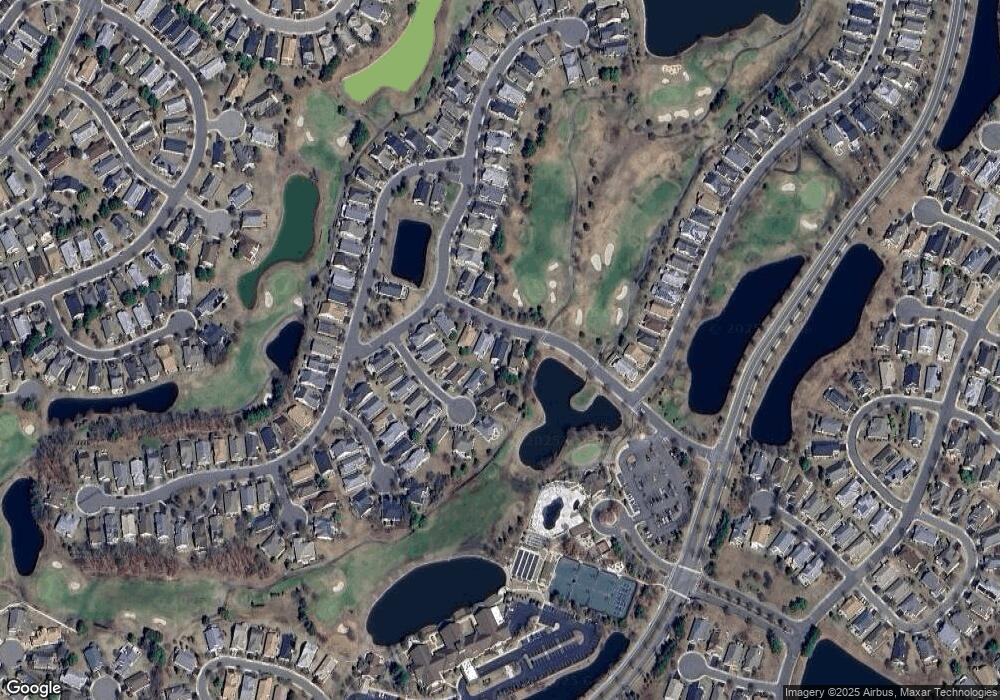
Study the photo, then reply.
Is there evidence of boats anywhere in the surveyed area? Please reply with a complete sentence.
No, I find no boat anywhere in the image.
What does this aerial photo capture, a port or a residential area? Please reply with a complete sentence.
This image shows a residential area.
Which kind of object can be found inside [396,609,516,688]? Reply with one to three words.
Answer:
building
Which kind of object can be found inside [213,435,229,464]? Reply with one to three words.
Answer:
house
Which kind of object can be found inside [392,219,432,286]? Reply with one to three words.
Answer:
pond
